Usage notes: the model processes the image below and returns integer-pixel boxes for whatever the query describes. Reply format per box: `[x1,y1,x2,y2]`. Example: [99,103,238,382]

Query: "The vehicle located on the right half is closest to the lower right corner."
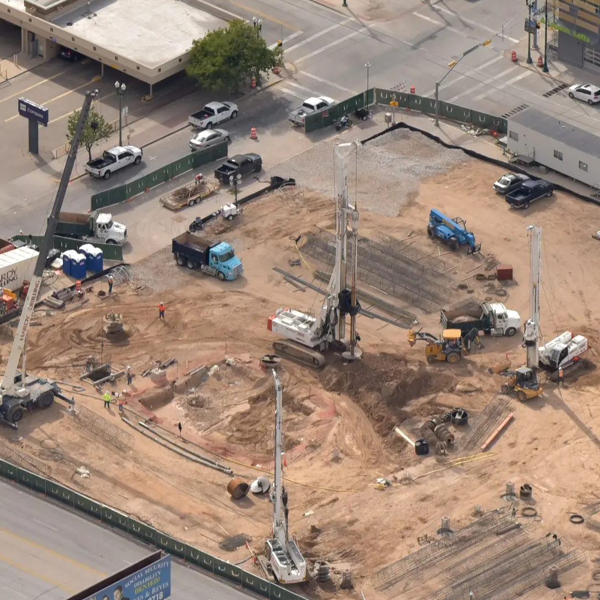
[489,359,545,398]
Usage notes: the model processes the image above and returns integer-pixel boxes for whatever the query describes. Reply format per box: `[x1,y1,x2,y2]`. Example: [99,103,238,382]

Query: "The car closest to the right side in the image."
[565,81,600,105]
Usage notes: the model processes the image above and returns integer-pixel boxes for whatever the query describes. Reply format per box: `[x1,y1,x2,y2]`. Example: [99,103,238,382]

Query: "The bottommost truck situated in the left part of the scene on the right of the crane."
[170,225,243,279]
